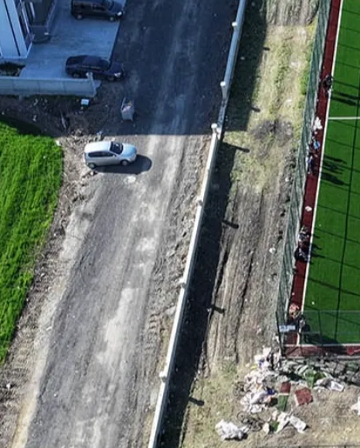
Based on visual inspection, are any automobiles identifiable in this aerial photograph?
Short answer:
Yes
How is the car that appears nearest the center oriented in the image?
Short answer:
horizontally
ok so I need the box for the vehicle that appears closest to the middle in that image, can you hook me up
[83,136,138,165]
